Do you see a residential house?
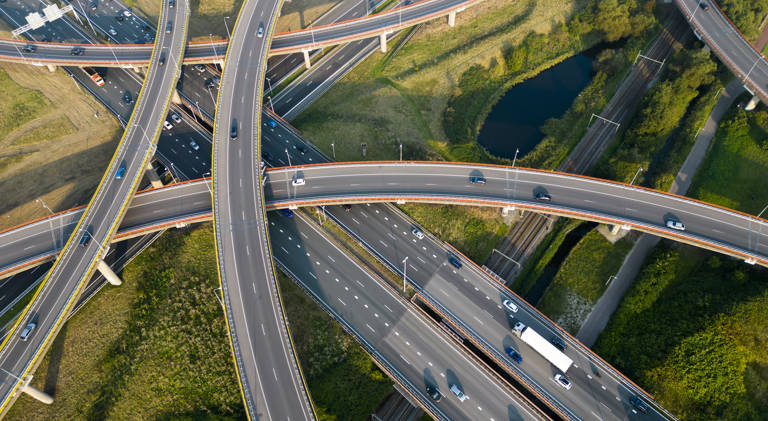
No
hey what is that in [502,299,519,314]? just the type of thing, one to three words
car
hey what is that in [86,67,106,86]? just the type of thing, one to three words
vehicle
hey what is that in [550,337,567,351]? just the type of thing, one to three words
car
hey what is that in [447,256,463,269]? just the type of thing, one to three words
vehicle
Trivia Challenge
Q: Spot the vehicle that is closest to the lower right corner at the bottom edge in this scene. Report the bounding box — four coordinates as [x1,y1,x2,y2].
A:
[628,395,648,413]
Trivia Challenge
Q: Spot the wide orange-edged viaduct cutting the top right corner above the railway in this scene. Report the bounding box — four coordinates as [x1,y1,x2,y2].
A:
[674,0,768,106]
